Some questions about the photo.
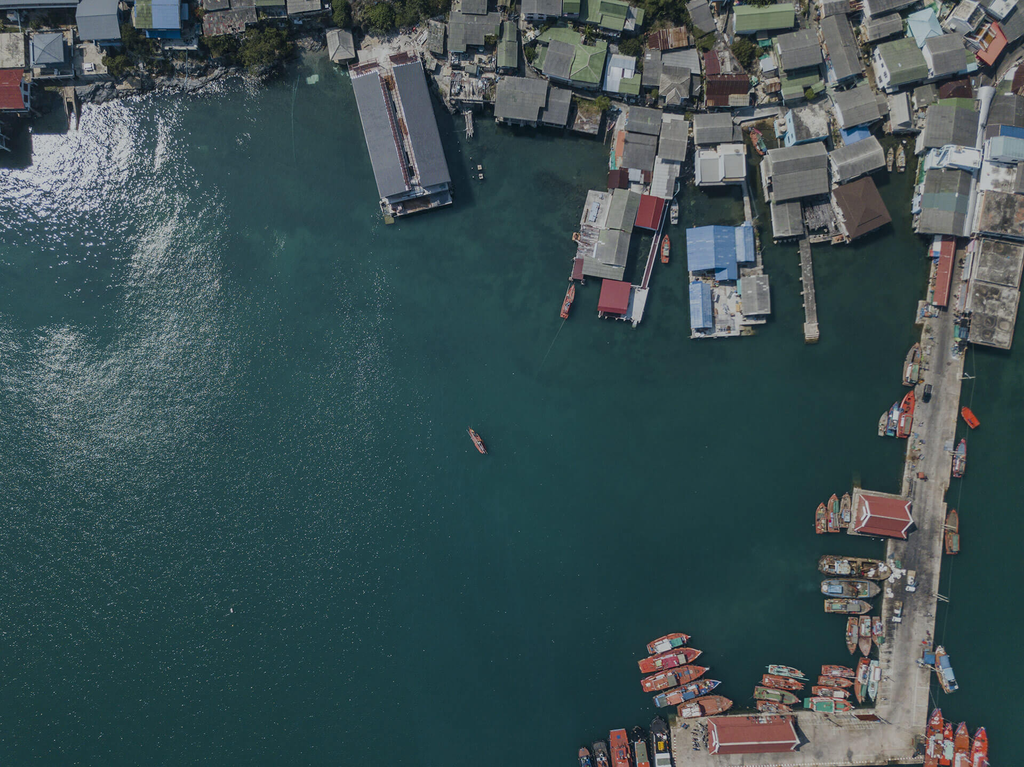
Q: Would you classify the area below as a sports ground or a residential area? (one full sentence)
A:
What you see here is a residential area.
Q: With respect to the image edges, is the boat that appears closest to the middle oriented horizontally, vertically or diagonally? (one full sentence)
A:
What the image shows is the boat that appears closest to the middle lying diagonally.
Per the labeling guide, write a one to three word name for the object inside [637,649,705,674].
boat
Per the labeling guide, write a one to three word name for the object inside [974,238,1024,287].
building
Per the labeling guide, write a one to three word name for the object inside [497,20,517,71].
house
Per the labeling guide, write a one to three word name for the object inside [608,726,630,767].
ship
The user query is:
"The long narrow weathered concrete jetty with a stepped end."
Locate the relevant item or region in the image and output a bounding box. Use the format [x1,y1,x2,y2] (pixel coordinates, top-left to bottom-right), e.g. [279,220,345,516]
[796,239,819,340]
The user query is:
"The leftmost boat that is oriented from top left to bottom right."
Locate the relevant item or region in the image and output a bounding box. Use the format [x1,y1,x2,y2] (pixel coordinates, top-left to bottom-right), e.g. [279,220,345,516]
[467,426,489,456]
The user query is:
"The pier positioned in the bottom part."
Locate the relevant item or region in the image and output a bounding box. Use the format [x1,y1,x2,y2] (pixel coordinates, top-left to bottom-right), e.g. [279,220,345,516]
[670,238,967,767]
